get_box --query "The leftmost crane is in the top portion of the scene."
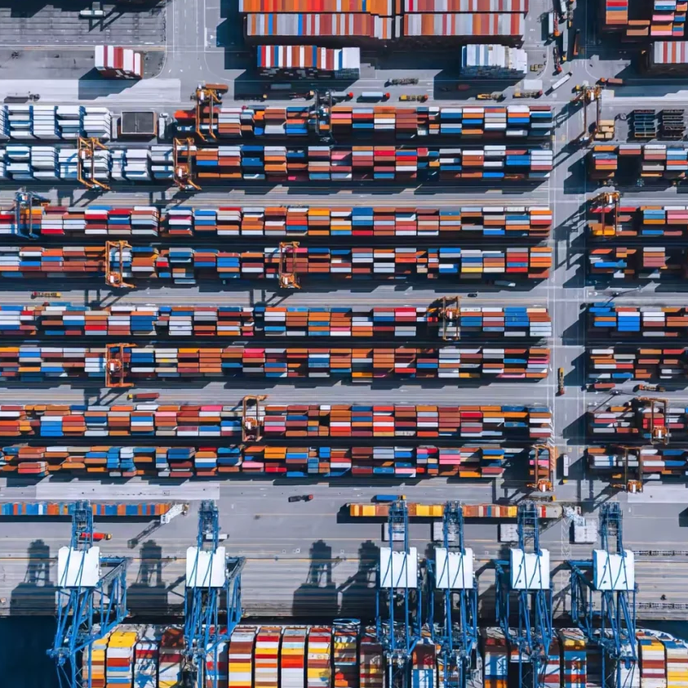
[13,191,49,245]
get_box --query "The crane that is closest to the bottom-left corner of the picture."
[42,498,133,688]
